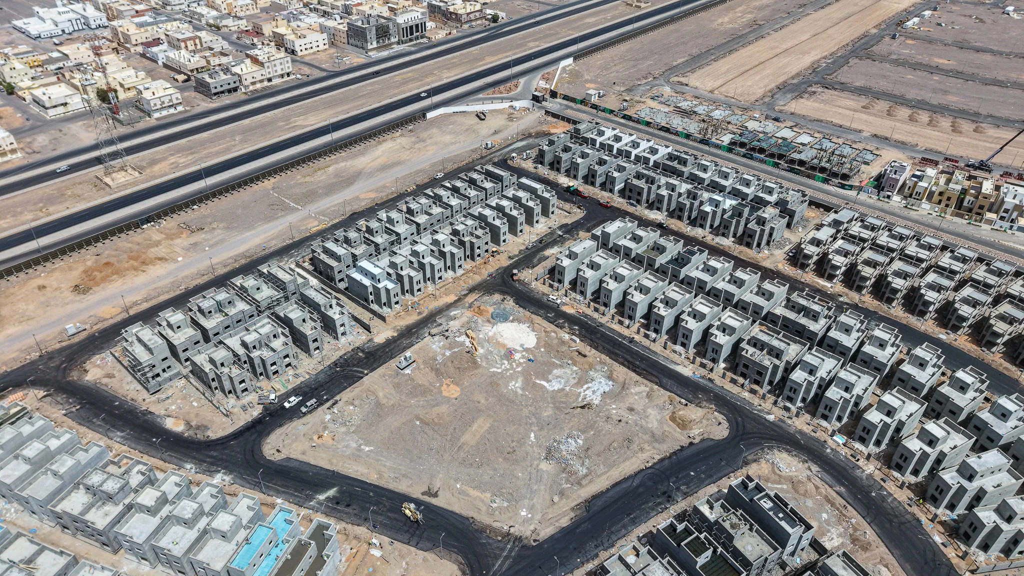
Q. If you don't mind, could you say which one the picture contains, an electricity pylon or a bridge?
electricity pylon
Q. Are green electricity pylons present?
No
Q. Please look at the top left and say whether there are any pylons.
Yes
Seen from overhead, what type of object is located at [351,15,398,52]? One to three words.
house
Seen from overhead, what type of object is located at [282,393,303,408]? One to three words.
vehicle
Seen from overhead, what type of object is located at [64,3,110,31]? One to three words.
building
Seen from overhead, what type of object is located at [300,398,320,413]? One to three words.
car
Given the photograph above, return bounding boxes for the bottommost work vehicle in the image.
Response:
[400,497,423,523]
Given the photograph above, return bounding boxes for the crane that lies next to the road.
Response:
[963,132,1024,173]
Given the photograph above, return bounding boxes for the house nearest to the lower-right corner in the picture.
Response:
[955,489,1024,557]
